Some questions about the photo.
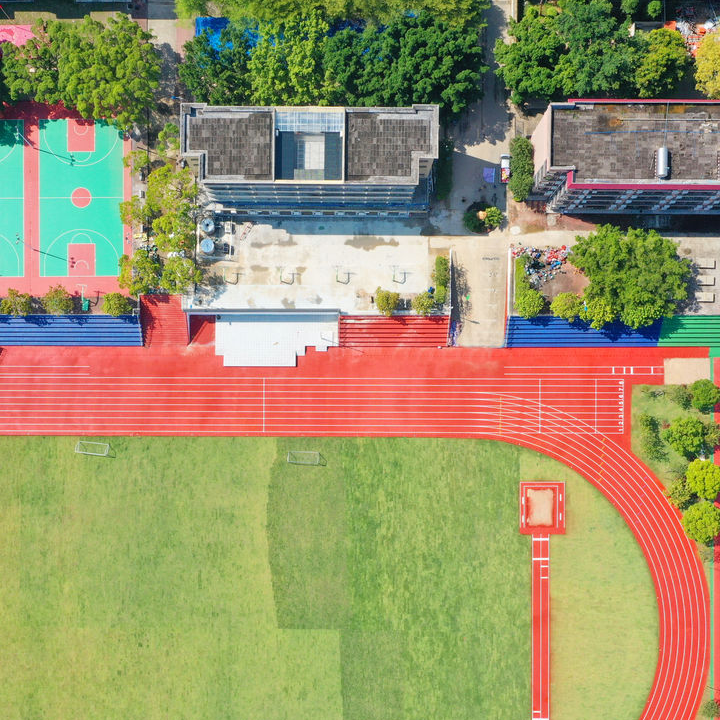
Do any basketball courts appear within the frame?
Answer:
Yes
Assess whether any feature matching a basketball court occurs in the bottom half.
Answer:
No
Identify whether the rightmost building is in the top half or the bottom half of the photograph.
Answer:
top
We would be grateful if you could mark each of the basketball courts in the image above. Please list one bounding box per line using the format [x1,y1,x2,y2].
[39,119,124,277]
[0,119,24,277]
